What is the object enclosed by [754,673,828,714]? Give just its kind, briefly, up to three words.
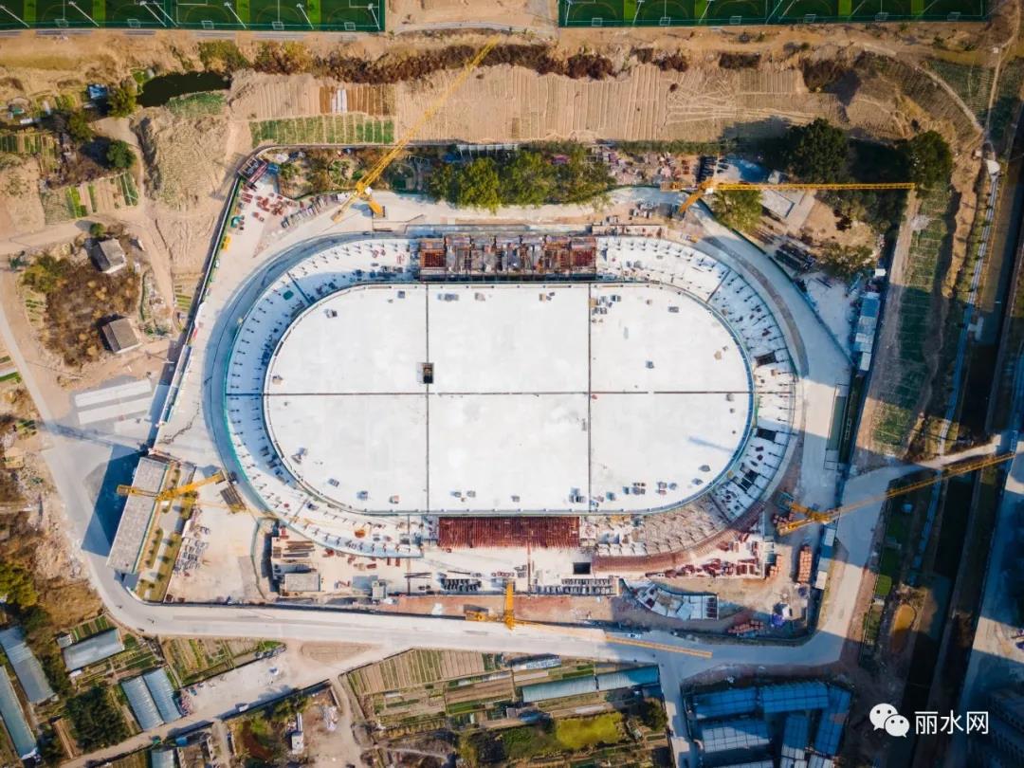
building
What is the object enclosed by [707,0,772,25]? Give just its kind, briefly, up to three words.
soccer field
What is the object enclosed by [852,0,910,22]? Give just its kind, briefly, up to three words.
soccer field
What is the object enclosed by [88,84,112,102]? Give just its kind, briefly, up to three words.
shed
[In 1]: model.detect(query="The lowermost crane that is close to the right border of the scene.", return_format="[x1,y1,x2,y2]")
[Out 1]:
[775,452,1018,534]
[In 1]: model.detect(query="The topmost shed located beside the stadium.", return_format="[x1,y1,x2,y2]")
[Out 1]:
[163,347,193,419]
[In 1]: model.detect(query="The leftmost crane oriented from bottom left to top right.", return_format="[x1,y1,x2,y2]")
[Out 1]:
[331,39,499,225]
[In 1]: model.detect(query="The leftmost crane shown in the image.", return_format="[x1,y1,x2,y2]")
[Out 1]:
[115,466,367,535]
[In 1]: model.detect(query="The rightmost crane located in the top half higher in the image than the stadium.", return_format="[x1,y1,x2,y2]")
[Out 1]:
[658,181,919,219]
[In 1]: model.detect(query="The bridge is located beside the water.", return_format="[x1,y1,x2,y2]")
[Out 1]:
[925,429,1016,470]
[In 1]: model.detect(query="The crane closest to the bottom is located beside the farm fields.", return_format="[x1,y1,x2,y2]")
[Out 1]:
[464,572,714,659]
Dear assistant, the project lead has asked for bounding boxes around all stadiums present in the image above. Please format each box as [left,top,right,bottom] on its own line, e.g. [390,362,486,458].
[223,234,799,571]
